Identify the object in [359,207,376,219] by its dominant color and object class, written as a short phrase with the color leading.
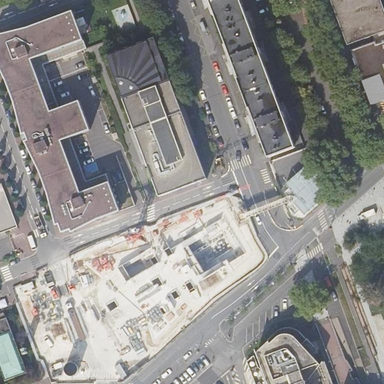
white vehicle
